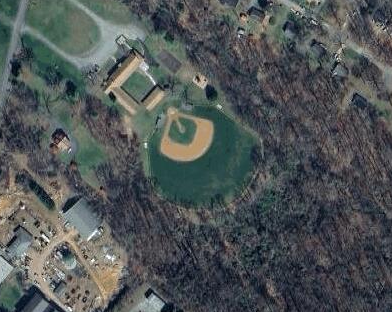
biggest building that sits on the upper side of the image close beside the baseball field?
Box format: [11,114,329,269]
[103,52,165,115]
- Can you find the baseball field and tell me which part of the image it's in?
center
